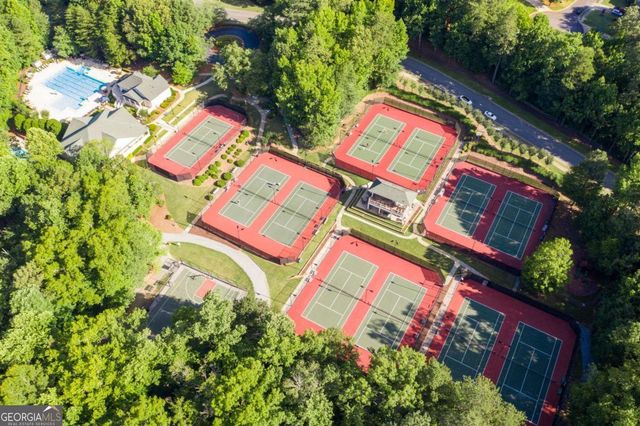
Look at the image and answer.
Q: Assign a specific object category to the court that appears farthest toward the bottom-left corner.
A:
basketball court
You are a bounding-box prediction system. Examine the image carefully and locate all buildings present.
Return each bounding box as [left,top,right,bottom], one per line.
[115,74,172,114]
[364,172,424,225]
[46,103,152,158]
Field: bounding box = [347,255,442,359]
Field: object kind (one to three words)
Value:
tennis court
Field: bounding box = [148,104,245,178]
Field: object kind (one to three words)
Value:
tennis court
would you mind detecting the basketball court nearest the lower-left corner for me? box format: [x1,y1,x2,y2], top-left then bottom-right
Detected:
[136,265,242,359]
